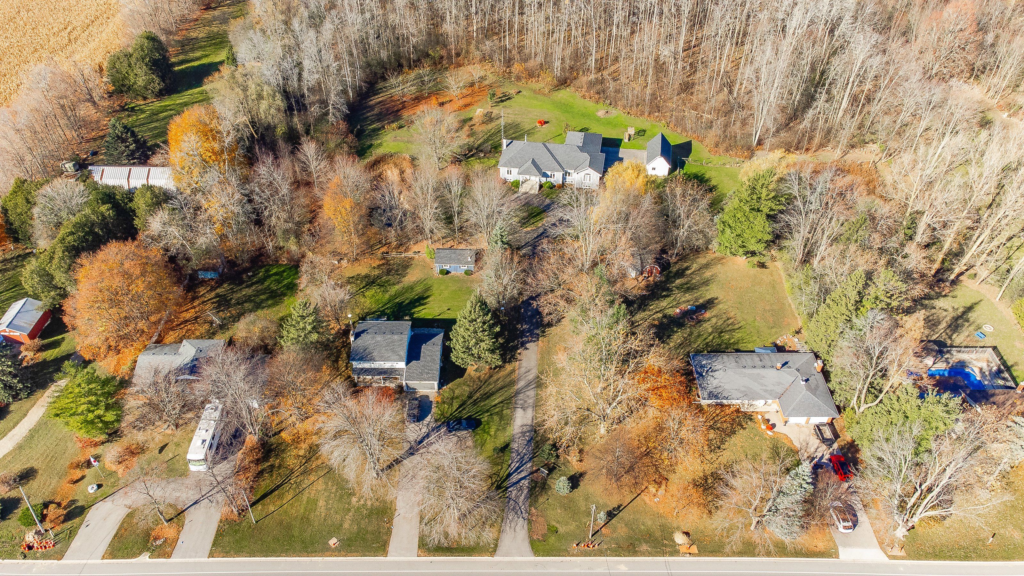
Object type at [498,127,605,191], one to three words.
house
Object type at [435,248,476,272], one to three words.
shed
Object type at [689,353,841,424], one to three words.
house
